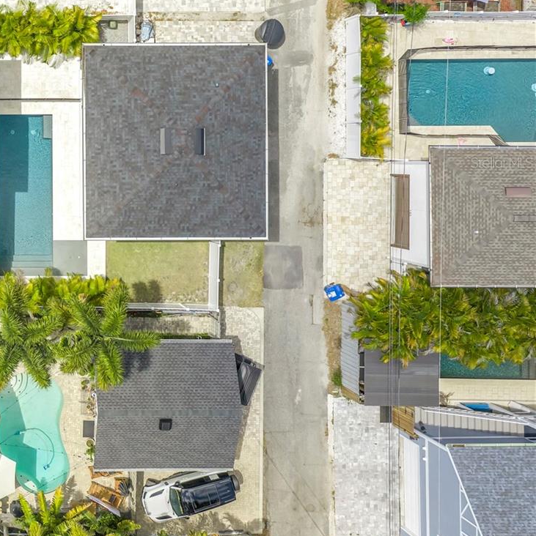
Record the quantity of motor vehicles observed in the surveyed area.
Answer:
2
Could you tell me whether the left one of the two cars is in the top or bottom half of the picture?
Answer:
bottom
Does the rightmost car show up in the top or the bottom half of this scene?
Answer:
bottom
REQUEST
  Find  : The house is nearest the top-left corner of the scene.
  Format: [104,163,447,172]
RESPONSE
[79,42,269,241]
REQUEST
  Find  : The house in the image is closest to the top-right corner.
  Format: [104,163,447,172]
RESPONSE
[388,144,536,289]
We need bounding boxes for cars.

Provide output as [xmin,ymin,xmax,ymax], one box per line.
[236,356,270,404]
[140,472,239,521]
